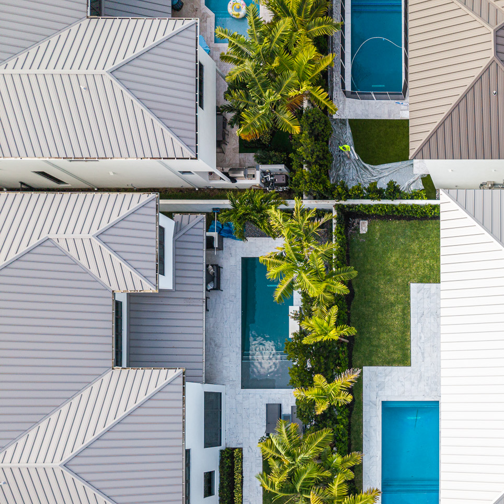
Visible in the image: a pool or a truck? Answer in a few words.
pool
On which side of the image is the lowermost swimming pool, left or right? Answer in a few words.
right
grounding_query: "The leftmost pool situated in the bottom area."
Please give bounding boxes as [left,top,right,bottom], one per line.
[238,254,295,391]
